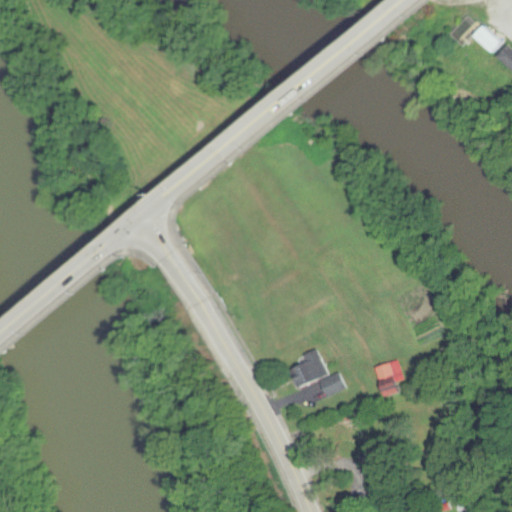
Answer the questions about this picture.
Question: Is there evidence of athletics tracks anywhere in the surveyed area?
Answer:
No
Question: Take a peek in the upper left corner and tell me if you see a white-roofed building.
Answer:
No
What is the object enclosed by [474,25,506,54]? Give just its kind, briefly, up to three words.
building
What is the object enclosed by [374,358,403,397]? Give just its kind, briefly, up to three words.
barn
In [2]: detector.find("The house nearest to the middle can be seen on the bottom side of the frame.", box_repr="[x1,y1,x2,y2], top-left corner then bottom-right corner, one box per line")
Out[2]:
[292,348,328,387]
